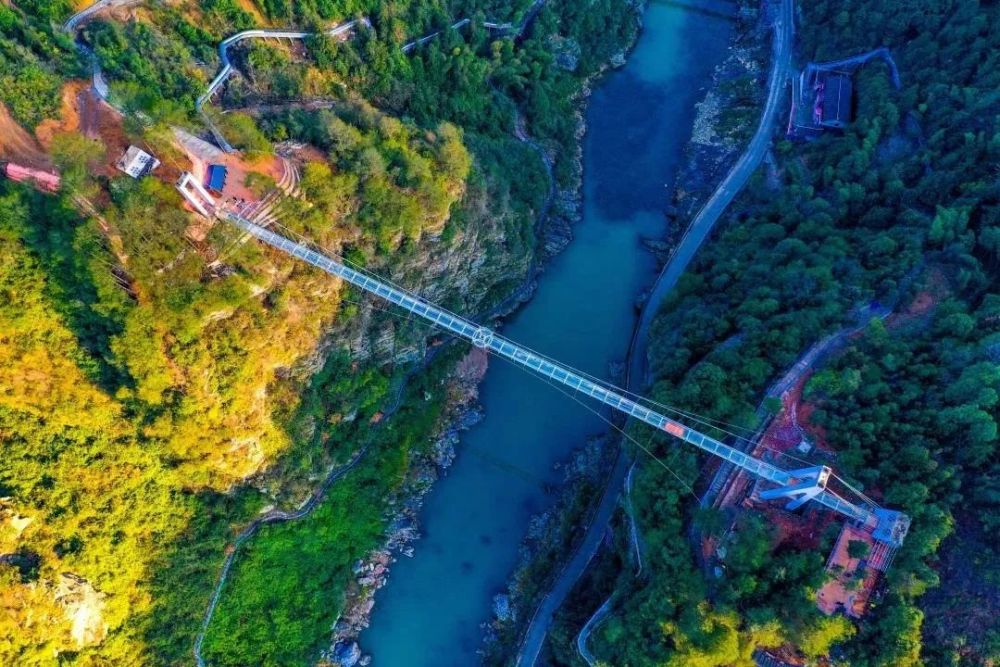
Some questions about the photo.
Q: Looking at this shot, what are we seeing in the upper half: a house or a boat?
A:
house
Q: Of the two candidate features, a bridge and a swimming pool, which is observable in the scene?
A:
bridge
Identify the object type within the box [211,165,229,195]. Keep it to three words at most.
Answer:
shed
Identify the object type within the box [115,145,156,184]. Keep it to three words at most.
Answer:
building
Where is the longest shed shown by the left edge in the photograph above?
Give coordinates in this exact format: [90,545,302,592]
[6,163,68,198]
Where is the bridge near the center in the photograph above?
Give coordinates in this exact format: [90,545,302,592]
[147,169,872,529]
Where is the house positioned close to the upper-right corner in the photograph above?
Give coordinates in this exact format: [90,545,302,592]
[811,73,851,126]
